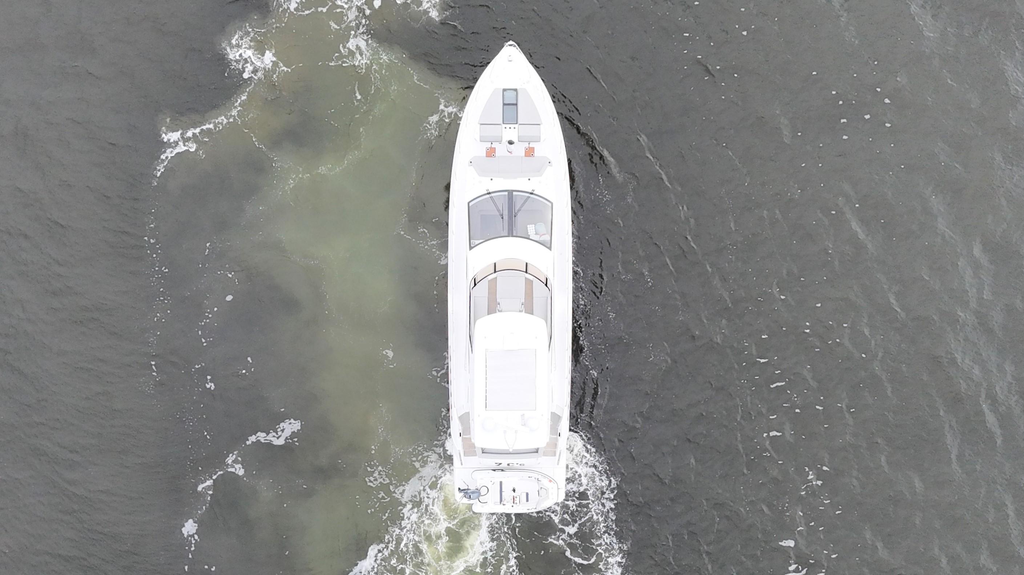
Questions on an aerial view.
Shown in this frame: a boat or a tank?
boat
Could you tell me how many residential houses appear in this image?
0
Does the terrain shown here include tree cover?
No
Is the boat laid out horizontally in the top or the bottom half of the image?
bottom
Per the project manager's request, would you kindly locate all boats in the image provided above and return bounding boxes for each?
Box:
[448,40,572,503]
[458,469,558,514]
